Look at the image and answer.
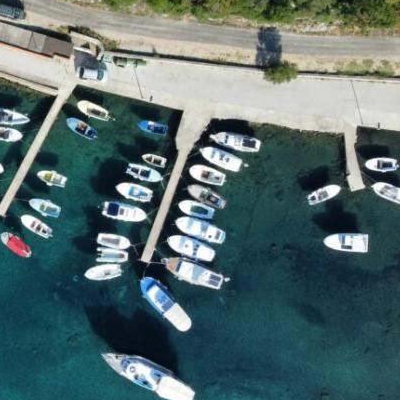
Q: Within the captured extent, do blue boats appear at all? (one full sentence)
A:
Yes, there's a blue boat down there.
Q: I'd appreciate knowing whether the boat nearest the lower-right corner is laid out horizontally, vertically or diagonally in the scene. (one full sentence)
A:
The boat nearest the lower-right corner runs horizontally in the image.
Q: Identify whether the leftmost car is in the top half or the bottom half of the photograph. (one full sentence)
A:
The leftmost car sits in the top half of the picture.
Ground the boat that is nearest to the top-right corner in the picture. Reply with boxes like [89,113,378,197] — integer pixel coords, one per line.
[362,156,400,173]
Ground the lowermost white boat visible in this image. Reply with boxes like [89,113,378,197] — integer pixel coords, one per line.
[103,354,204,400]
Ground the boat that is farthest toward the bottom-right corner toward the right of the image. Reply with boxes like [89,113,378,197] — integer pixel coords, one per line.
[323,232,370,252]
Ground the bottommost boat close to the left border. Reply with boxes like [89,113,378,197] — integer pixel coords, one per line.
[0,231,35,261]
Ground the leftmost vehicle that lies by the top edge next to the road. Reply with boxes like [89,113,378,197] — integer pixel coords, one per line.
[0,2,27,22]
